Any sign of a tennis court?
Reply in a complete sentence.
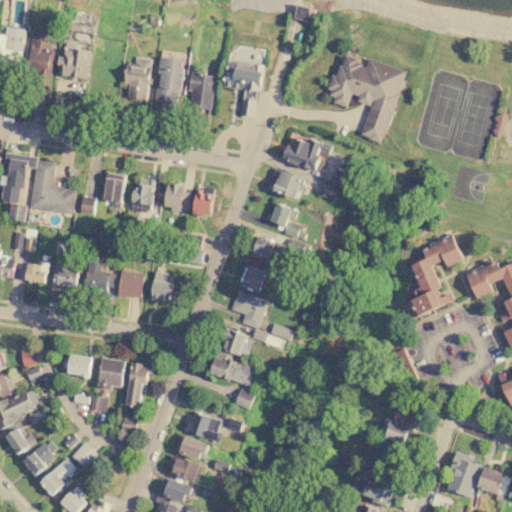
Yes, there's a tennis court down there.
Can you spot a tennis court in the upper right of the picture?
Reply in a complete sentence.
Yes, a tennis court is visible in the upper right of the picture.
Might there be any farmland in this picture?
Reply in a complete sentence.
No, no farmland is visible.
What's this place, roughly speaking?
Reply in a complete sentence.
It's a residential area.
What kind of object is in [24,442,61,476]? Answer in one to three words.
house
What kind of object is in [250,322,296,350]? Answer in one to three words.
shed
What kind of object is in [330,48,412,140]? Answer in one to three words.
building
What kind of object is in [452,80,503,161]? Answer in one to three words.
tennis court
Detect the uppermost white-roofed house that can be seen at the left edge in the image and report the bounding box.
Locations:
[0,28,29,58]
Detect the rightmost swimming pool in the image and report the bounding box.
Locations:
[48,214,62,228]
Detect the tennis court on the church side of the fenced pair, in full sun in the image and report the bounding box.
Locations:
[417,70,468,154]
